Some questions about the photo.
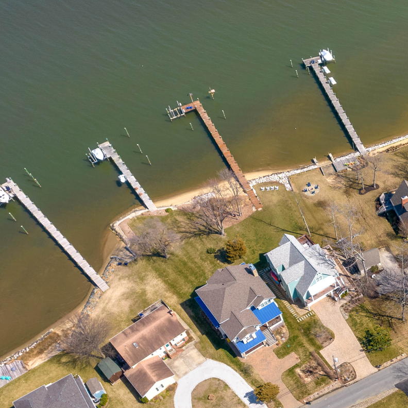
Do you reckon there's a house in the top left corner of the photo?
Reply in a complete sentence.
No, no house is visible in the top left corner of the photo.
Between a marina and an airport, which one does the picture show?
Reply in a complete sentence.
This looks like a marina.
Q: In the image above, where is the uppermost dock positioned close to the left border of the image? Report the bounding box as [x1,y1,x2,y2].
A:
[0,177,108,293]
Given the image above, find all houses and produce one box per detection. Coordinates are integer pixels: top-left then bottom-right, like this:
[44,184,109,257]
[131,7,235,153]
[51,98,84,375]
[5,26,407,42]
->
[3,373,97,408]
[194,261,285,361]
[263,230,353,312]
[110,297,188,400]
[378,185,408,226]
